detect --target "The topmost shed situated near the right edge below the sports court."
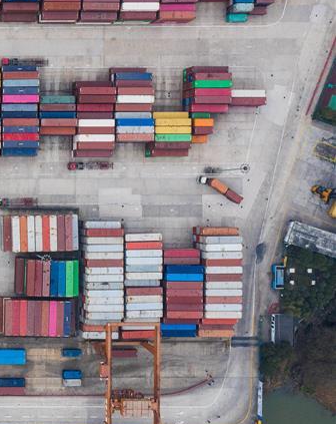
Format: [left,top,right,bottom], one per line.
[279,220,336,258]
